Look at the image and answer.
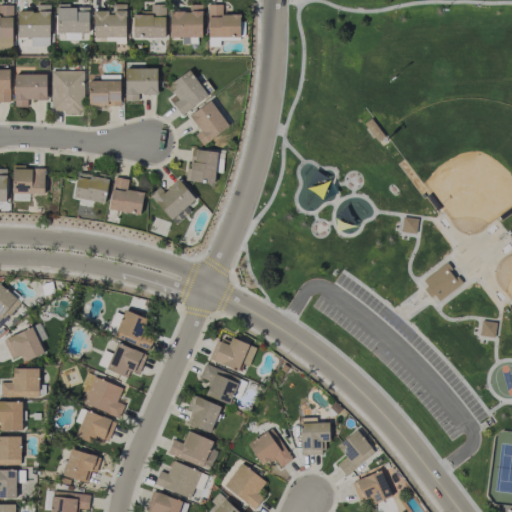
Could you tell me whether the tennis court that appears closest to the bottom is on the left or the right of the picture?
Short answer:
right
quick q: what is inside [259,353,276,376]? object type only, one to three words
swimming pool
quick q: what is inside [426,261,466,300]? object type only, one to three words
building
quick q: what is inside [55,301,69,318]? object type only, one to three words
swimming pool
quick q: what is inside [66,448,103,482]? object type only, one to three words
house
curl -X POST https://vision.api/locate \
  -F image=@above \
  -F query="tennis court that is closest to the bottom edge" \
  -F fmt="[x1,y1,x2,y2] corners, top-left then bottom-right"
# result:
[488,430,512,506]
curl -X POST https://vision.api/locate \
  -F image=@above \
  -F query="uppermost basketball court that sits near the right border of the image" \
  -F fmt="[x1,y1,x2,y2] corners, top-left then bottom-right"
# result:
[488,356,512,406]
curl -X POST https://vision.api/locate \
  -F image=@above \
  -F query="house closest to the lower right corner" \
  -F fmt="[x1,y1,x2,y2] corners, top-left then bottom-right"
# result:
[354,462,399,503]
